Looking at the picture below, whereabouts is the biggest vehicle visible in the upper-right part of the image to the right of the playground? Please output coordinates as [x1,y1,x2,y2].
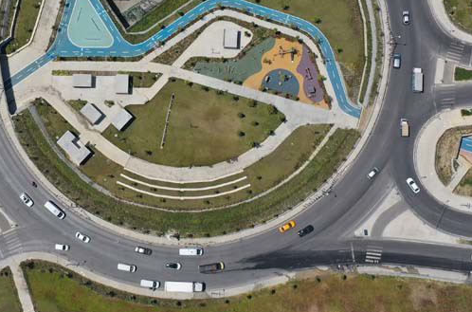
[411,68,423,92]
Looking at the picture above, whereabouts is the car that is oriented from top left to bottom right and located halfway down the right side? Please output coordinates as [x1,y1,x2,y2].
[406,178,419,193]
